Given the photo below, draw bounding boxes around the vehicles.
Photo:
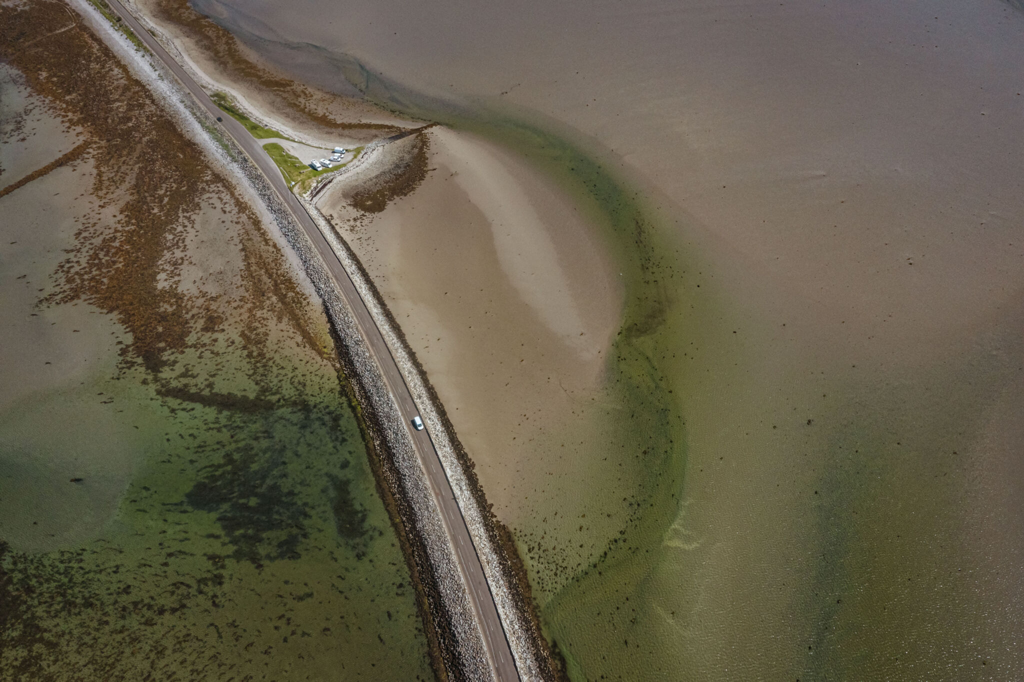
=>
[311,159,321,170]
[319,159,332,168]
[414,416,423,430]
[335,153,344,158]
[330,156,340,161]
[334,147,345,154]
